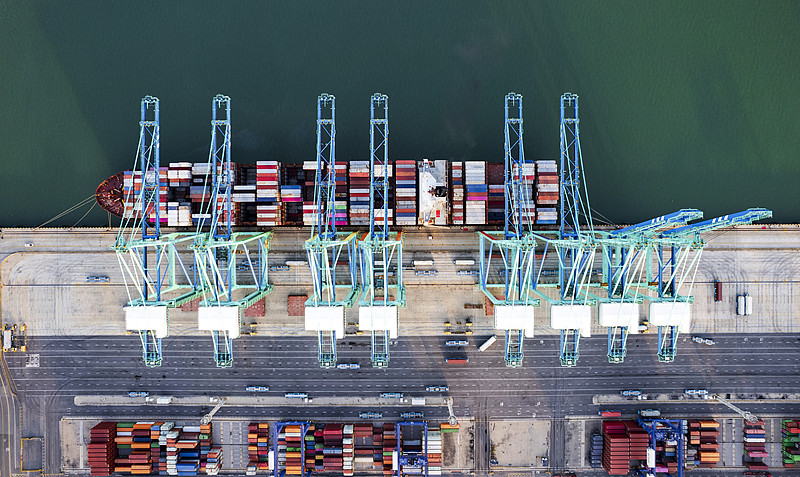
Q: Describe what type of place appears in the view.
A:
port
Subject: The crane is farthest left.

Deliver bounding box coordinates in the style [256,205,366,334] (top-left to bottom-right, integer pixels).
[114,94,212,369]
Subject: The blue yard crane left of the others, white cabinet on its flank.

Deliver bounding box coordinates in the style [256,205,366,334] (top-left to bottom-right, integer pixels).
[271,419,314,477]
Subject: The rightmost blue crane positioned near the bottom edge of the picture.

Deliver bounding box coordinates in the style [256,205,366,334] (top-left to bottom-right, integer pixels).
[636,418,684,477]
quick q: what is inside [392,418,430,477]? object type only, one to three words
crane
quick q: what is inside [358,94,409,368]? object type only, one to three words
container crane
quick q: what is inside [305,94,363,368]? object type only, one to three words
container crane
